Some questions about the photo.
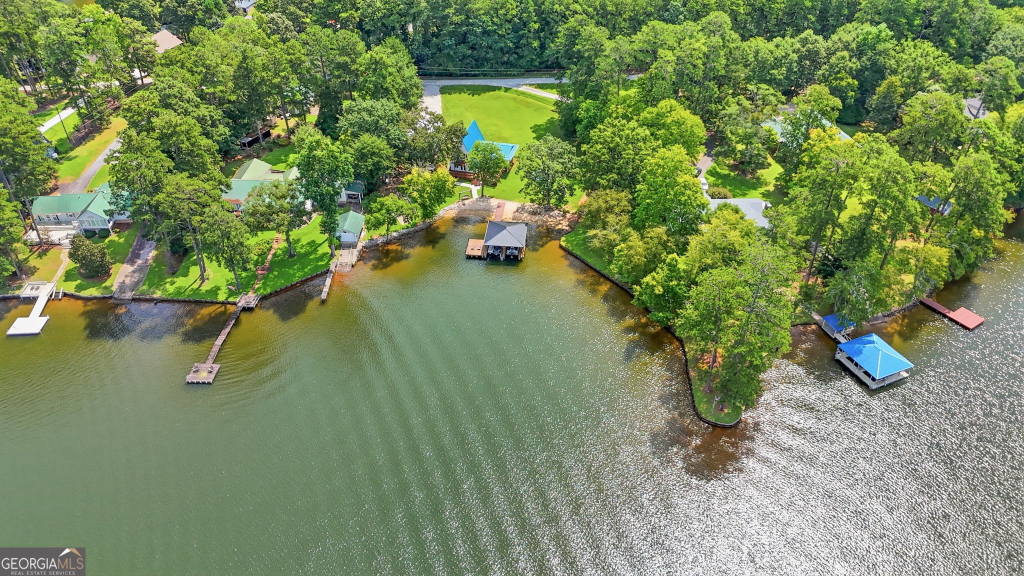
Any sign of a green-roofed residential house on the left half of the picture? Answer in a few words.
Yes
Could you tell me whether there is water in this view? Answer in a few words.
Yes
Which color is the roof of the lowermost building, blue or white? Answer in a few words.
blue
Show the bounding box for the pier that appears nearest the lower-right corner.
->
[920,298,984,332]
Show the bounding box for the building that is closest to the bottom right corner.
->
[833,333,917,390]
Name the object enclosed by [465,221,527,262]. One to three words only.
building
